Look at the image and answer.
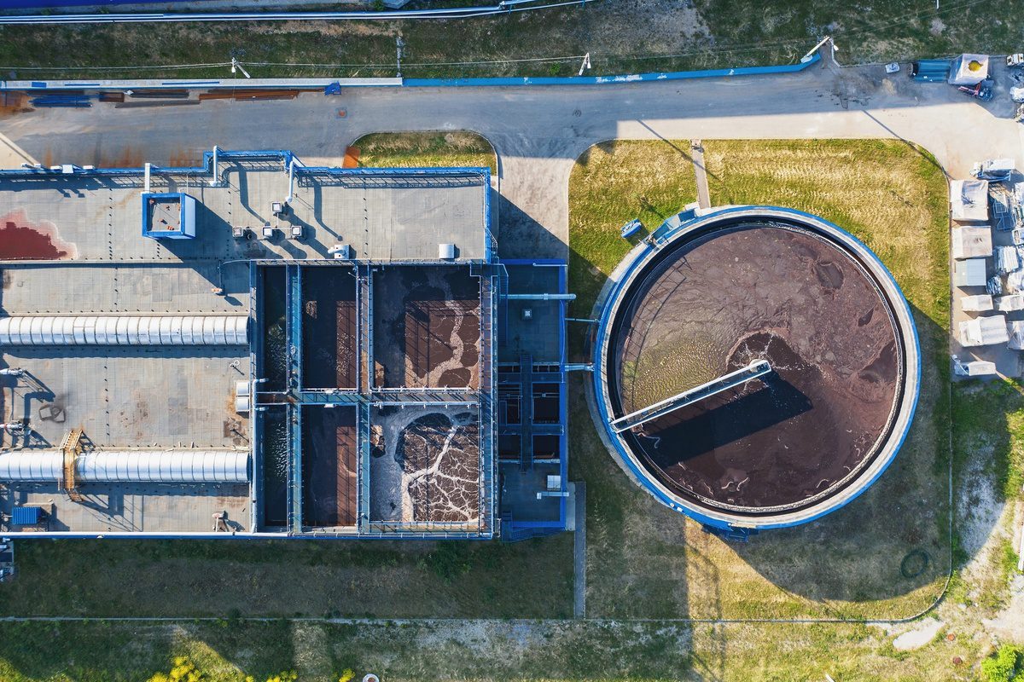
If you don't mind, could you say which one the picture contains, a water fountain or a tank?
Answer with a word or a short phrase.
tank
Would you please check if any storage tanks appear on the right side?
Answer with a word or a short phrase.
Yes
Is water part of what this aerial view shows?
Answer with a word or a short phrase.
Yes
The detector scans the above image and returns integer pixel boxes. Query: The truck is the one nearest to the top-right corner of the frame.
[996,52,1024,74]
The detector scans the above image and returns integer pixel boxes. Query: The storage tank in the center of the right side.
[593,207,921,529]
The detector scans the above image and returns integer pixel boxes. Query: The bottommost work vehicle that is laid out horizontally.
[958,82,1002,103]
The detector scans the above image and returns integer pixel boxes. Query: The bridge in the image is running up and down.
[59,431,87,503]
